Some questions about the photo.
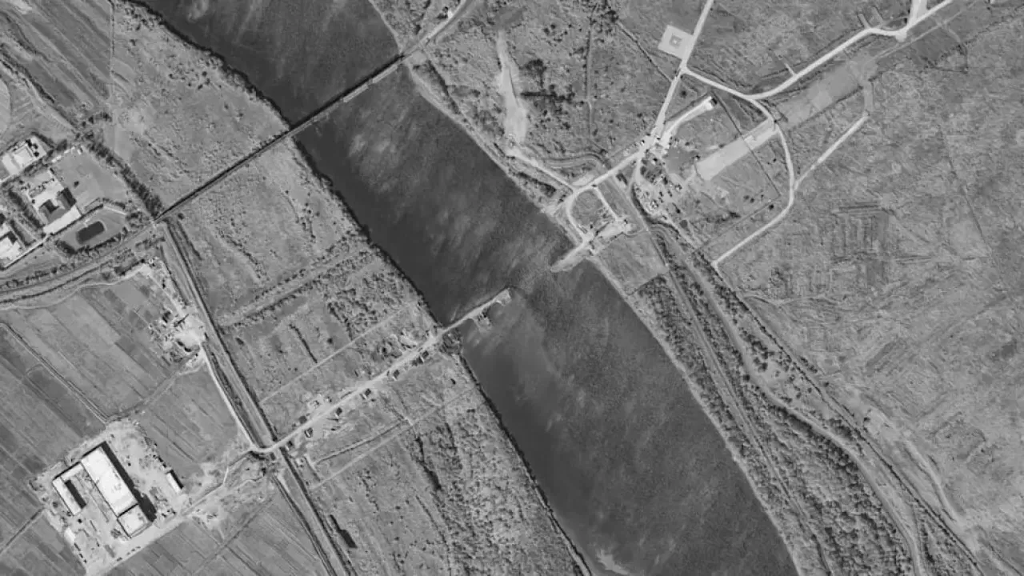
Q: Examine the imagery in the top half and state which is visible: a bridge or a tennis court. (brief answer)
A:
bridge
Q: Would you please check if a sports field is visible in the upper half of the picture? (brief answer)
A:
Yes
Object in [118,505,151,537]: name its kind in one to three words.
building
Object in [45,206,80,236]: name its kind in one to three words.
building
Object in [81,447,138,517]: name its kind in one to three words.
shed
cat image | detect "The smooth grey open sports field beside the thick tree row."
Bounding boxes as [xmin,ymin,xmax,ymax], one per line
[57,152,125,206]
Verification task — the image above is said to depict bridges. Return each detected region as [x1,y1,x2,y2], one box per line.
[157,39,439,220]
